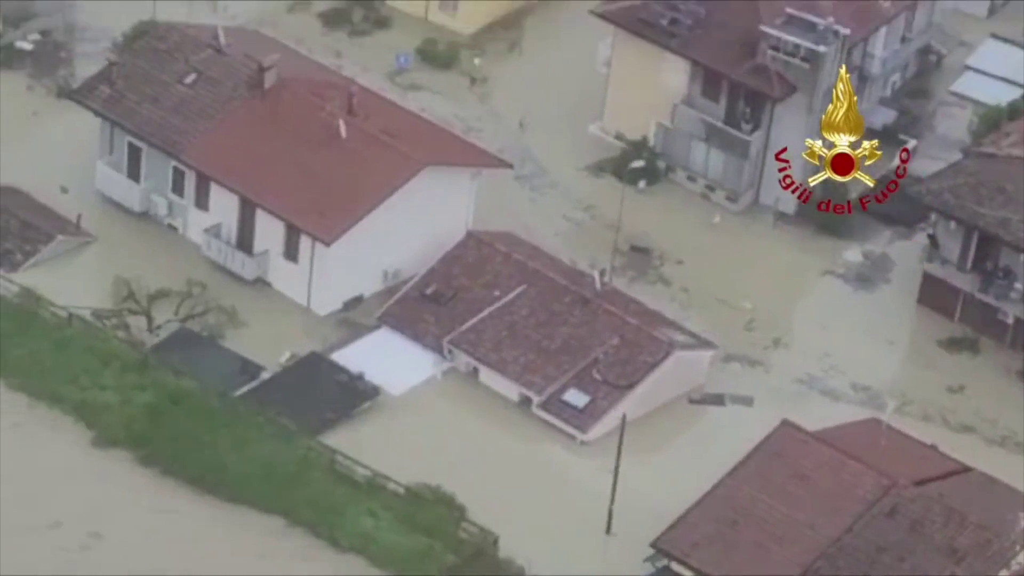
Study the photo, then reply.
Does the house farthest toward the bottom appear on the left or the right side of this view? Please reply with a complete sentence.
The house farthest toward the bottom appears in the right half of the scene.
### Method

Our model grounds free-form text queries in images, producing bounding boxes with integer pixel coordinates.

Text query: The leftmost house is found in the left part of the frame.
[0,180,97,282]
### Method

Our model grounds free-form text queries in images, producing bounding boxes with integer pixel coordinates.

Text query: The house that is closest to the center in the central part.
[377,231,718,447]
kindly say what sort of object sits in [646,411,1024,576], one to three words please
house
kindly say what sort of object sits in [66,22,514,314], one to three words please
house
